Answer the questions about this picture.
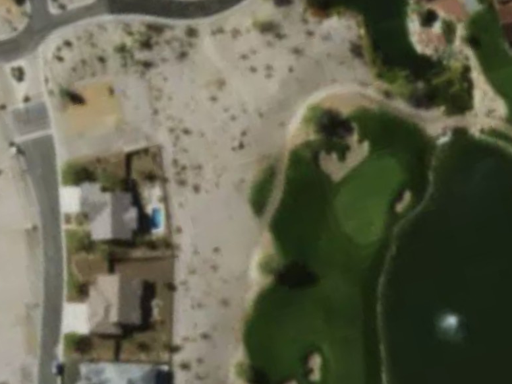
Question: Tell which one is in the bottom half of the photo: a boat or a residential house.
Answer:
residential house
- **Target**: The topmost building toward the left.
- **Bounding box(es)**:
[80,183,138,241]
